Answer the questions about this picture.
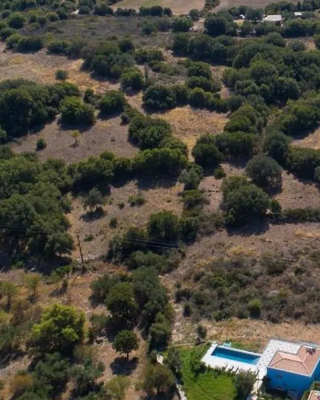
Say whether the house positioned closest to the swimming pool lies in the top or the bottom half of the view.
bottom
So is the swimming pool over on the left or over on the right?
right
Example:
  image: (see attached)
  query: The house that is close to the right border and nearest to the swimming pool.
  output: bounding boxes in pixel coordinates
[266,339,320,393]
